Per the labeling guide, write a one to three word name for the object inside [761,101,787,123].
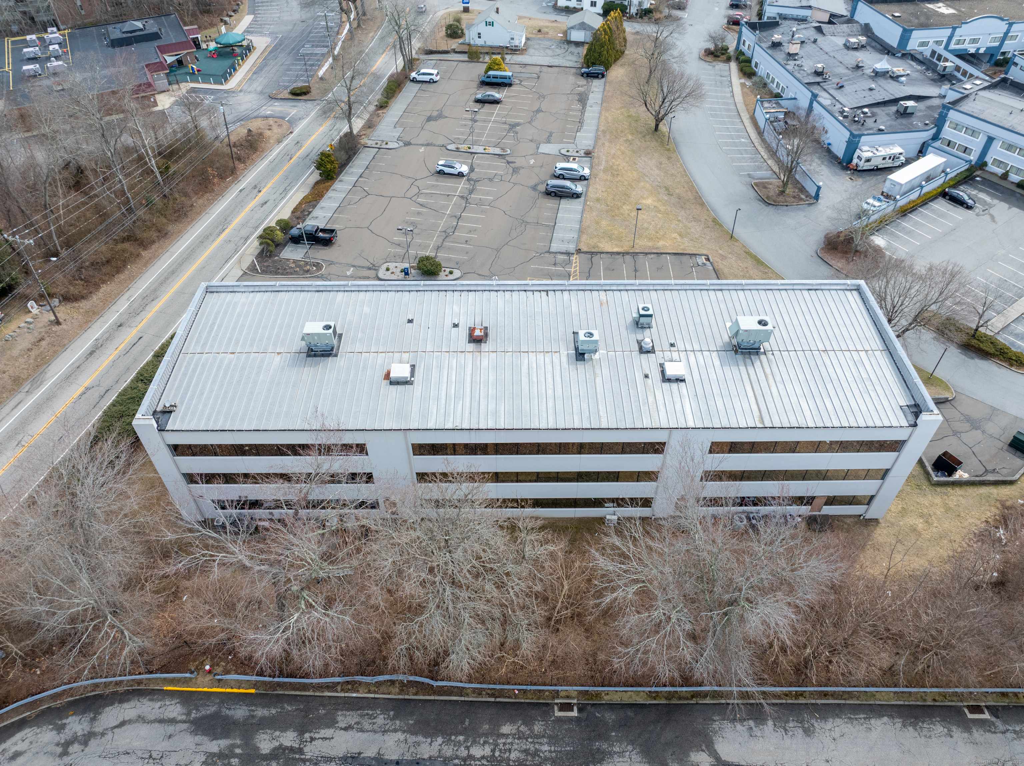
shed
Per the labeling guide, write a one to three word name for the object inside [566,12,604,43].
building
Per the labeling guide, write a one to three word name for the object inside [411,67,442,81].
car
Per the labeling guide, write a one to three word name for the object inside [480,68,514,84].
vehicle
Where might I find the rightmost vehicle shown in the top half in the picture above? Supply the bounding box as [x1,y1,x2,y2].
[942,186,982,207]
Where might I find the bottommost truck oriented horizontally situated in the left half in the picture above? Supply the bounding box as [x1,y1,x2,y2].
[288,222,340,243]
